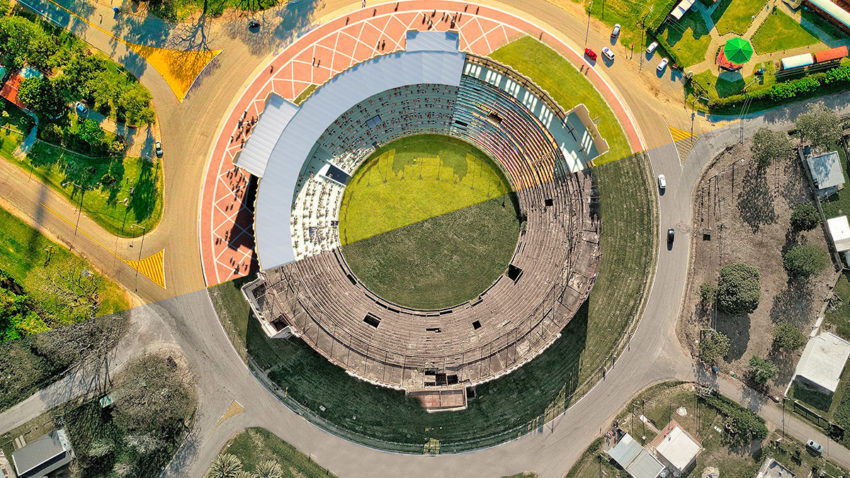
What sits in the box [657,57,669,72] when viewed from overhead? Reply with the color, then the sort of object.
white vehicle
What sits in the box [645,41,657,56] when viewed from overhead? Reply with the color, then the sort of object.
white vehicle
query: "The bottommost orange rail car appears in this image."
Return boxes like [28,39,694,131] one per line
[809,46,849,66]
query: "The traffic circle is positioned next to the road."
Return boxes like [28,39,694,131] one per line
[154,0,700,478]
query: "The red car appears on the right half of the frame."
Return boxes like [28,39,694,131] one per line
[583,48,598,61]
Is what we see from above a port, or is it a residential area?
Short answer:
residential area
